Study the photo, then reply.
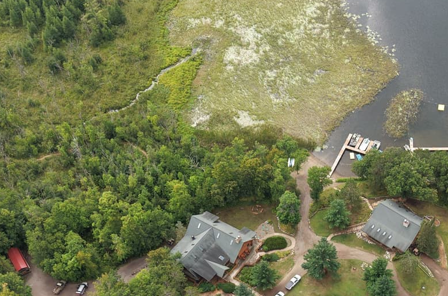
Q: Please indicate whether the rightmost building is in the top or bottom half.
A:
bottom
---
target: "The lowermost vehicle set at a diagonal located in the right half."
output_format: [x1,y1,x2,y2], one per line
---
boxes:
[285,274,302,291]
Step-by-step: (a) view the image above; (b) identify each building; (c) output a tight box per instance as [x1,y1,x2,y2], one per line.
[169,211,264,286]
[362,199,428,256]
[9,248,33,279]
